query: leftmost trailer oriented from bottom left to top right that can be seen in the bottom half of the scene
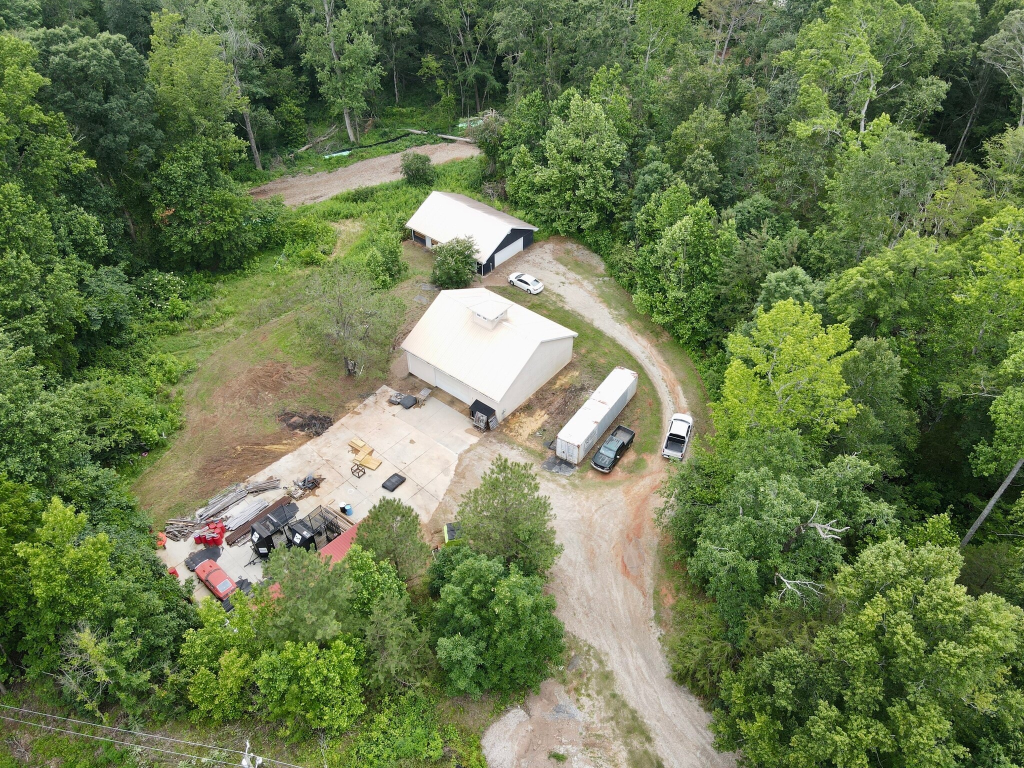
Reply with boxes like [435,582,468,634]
[236,503,297,562]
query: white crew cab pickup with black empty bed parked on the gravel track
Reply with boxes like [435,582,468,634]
[662,412,694,461]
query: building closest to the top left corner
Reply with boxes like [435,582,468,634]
[406,191,539,278]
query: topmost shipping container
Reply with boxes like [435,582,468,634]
[556,365,638,465]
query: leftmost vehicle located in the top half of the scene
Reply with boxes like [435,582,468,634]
[507,274,545,296]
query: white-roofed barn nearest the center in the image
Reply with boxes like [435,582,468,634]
[400,289,578,425]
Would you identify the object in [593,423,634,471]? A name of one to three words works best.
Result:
truck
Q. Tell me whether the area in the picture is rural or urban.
rural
